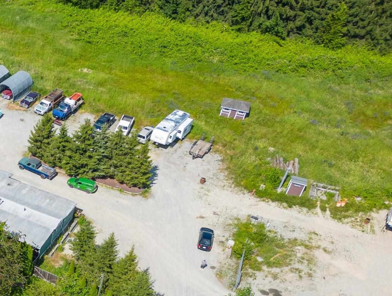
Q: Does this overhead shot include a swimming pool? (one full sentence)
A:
No, there isn't any swimming pool down there.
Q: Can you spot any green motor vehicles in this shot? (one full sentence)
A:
Yes, a green motor vehicle can be made out from above.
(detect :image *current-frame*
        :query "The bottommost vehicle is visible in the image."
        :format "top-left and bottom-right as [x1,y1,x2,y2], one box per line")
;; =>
[196,226,215,252]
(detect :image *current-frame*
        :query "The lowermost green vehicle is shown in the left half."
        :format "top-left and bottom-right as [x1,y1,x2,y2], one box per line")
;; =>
[66,177,97,194]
